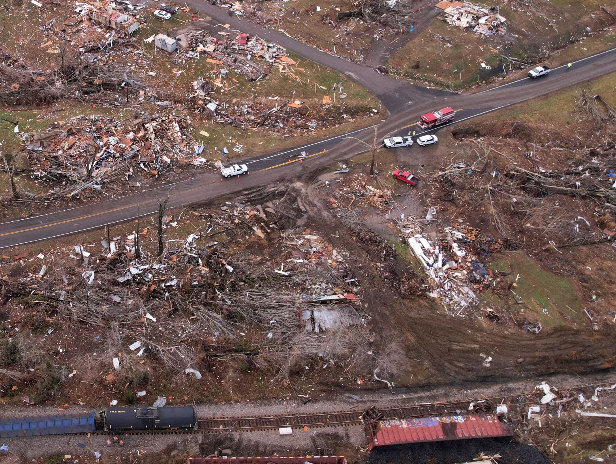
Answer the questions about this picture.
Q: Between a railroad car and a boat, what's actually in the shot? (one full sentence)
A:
There is a railroad car in the scene.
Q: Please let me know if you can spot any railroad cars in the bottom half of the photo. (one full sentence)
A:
Yes, a railroad car shows up in the bottom half of the photo.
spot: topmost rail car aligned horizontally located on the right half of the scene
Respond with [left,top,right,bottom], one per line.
[366,399,523,441]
